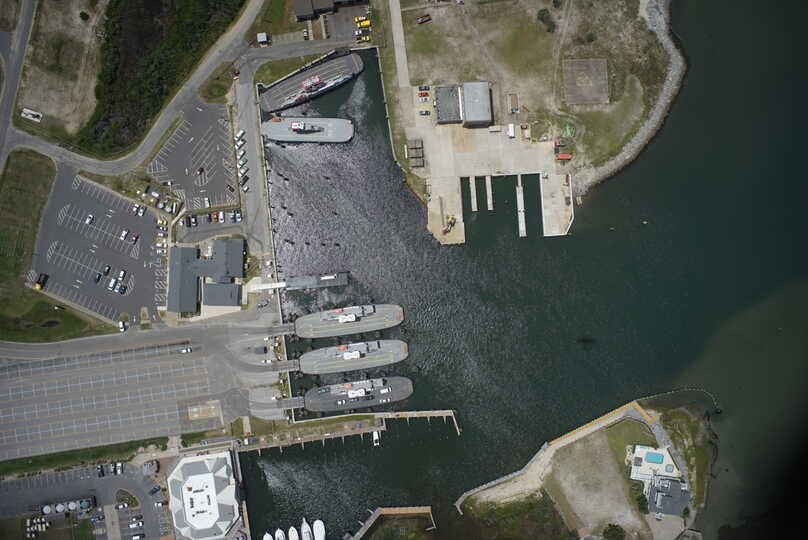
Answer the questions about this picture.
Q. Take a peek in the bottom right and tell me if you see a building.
Yes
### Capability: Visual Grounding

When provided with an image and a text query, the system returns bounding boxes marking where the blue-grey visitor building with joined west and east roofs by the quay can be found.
[167,239,245,312]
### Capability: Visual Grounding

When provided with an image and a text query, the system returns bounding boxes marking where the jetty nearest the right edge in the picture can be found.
[544,176,573,235]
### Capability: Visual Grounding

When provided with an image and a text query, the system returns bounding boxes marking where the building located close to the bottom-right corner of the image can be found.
[647,476,690,519]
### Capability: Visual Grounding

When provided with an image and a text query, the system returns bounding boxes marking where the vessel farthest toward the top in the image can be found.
[264,54,364,112]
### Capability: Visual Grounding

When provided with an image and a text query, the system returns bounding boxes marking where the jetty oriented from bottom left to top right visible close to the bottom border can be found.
[347,508,381,540]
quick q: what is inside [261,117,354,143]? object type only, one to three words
ship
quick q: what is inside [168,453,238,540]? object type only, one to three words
building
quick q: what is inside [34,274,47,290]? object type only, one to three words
vehicle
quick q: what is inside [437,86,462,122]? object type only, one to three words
building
